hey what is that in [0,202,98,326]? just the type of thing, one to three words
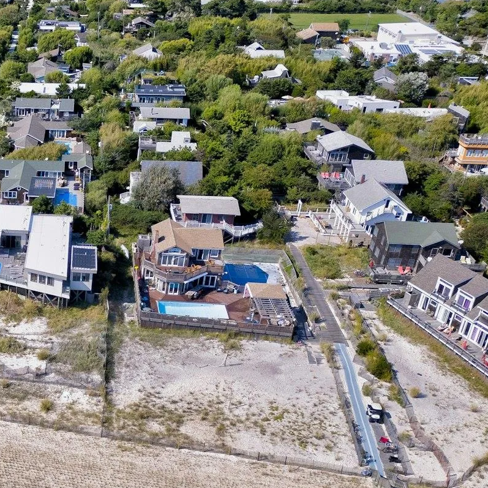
house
